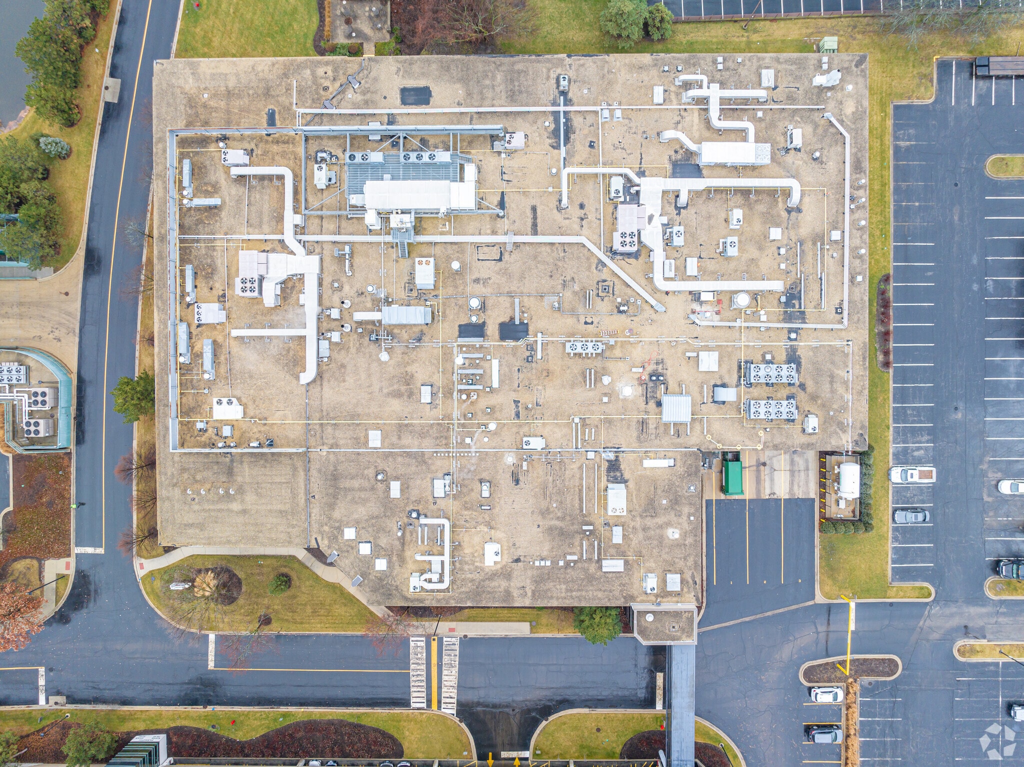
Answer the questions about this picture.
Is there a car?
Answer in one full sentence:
Yes, looking at the shot, I can spot a car.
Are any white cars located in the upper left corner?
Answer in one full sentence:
No, I see no white car in the upper left corner.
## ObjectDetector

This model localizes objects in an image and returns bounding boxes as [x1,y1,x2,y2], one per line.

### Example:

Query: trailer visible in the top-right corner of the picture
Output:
[971,56,1024,78]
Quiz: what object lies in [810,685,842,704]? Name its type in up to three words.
car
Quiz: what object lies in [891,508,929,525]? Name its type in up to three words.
car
